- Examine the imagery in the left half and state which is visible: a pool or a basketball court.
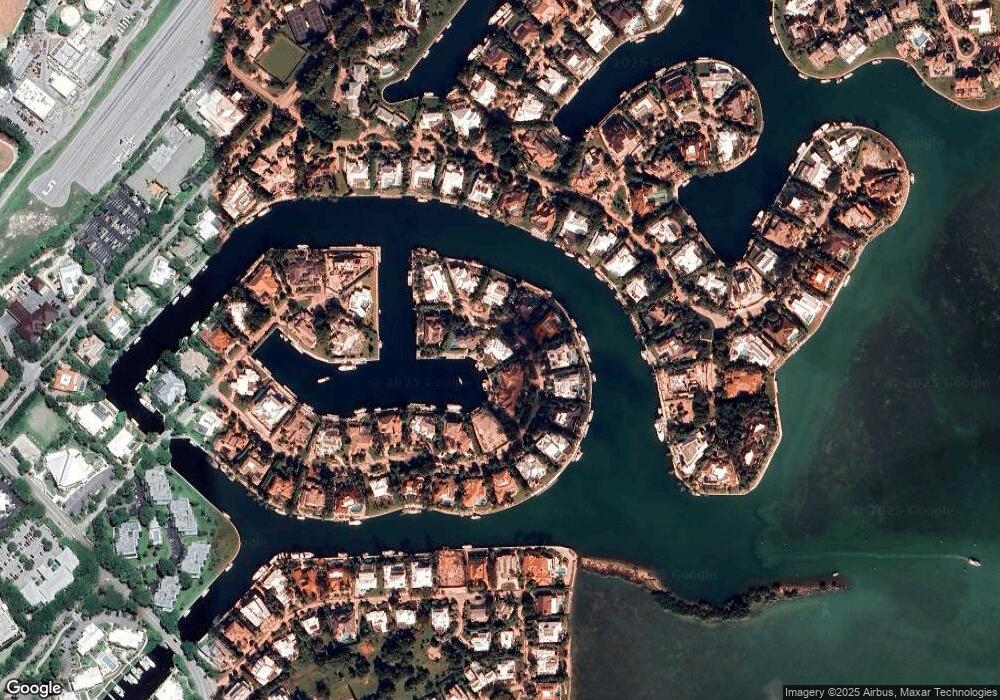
pool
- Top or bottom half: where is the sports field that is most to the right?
top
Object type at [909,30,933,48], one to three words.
swimming pool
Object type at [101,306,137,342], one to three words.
house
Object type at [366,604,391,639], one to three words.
house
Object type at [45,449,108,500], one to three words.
building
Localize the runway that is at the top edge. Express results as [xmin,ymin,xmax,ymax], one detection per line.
[28,0,225,206]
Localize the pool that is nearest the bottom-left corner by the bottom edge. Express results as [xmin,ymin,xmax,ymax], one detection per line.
[99,651,121,674]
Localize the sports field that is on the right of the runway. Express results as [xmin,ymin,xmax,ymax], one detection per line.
[255,33,306,83]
